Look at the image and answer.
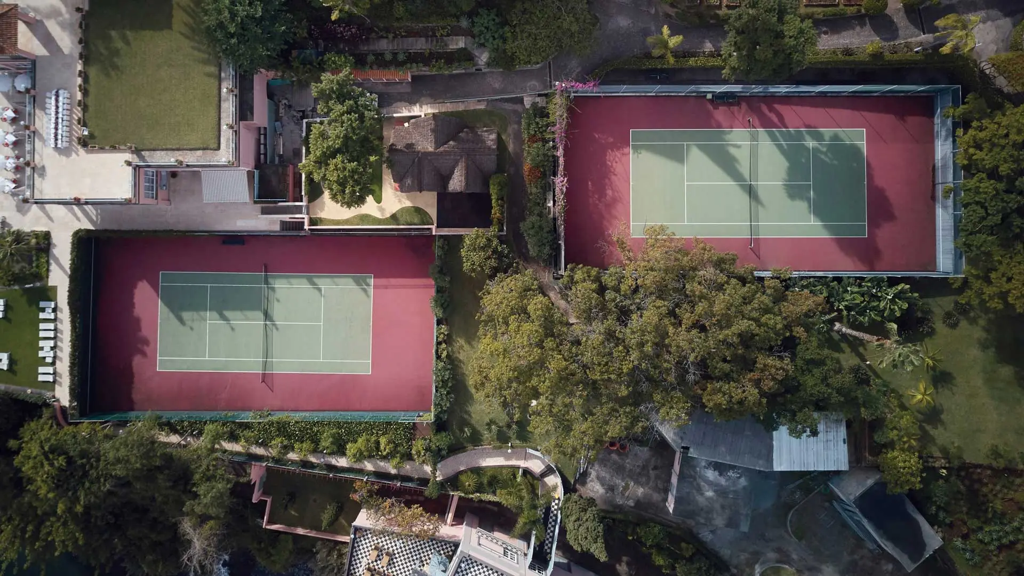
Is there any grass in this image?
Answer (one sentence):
Yes, some grass is visible.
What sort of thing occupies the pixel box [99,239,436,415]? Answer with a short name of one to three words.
tennis court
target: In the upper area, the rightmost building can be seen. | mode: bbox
[392,117,500,202]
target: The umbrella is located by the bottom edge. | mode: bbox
[429,552,449,573]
